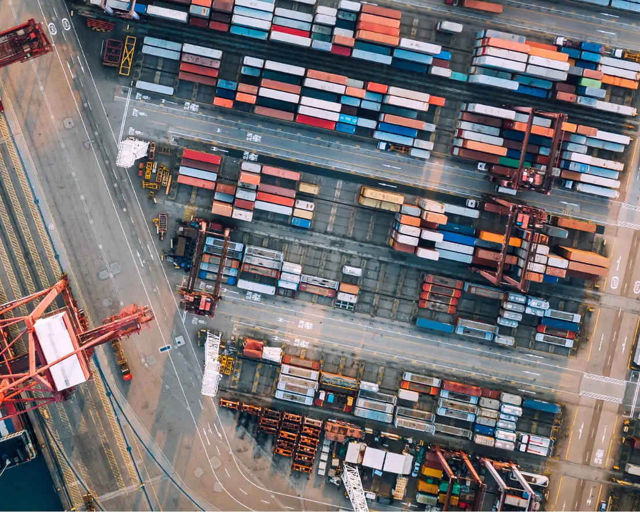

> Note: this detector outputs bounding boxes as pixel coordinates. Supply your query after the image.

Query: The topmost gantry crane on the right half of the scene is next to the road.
[487,108,567,203]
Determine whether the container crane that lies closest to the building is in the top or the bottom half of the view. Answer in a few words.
bottom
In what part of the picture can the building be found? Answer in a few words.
bottom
